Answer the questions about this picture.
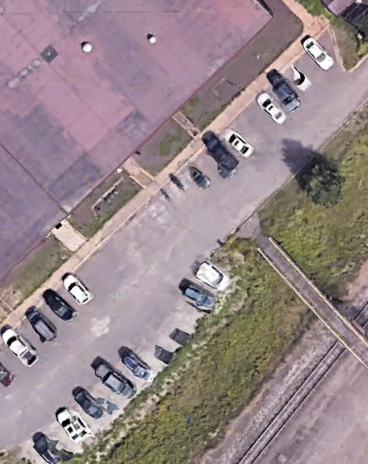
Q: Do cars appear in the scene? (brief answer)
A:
Yes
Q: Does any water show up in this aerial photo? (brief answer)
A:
No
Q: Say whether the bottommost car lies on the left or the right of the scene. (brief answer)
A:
left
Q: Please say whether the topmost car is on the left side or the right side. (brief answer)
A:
right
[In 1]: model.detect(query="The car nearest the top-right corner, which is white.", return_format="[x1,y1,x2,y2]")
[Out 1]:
[299,35,335,72]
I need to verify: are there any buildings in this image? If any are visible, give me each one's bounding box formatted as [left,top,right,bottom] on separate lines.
[0,0,279,289]
[324,0,368,46]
